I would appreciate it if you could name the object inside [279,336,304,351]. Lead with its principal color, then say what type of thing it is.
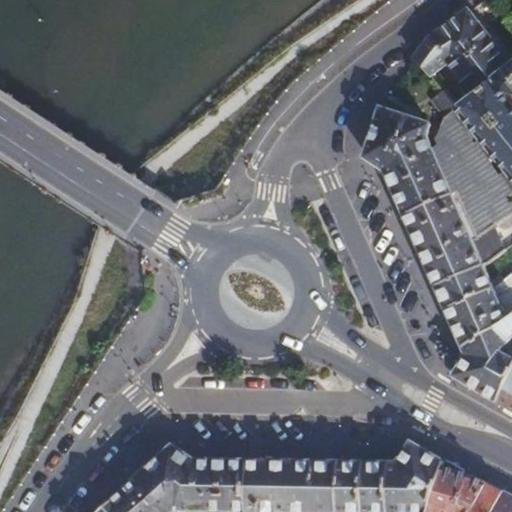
white vehicle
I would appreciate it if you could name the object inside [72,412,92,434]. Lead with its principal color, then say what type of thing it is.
white car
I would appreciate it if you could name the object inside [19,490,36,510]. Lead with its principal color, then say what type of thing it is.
white car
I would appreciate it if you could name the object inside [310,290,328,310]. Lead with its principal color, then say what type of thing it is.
white vehicle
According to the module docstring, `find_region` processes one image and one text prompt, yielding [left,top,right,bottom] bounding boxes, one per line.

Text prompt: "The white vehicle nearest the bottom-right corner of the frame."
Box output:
[410,406,432,426]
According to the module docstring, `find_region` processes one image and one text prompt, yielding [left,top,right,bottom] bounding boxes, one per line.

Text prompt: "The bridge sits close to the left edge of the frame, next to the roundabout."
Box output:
[0,91,180,252]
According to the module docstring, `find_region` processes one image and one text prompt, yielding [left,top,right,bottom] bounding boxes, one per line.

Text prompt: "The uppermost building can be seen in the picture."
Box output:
[408,6,500,78]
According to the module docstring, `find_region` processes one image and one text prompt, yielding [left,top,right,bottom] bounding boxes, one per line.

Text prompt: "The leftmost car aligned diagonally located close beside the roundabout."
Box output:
[168,248,186,267]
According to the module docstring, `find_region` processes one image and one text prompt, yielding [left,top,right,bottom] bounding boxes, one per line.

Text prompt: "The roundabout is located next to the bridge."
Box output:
[185,220,328,364]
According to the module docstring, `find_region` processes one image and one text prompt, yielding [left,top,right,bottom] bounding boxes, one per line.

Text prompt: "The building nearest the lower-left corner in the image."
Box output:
[92,442,241,512]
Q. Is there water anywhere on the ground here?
Yes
